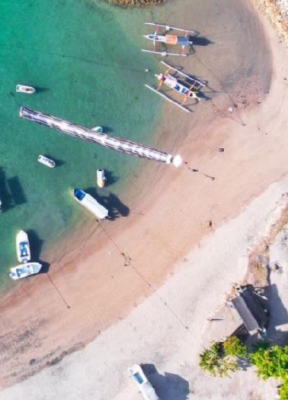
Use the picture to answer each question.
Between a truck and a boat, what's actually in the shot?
boat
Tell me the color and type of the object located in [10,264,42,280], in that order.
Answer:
white boat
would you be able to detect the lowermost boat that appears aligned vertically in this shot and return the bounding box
[18,231,31,265]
